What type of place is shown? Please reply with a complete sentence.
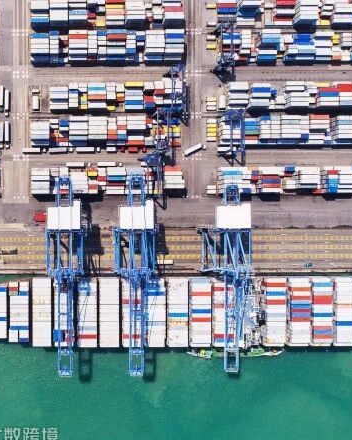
What you see here is a port.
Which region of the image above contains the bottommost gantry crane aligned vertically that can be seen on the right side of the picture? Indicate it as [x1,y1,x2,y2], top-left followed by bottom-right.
[202,185,266,376]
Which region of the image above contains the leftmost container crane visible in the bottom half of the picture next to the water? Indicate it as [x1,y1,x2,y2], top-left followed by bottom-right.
[45,173,107,378]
